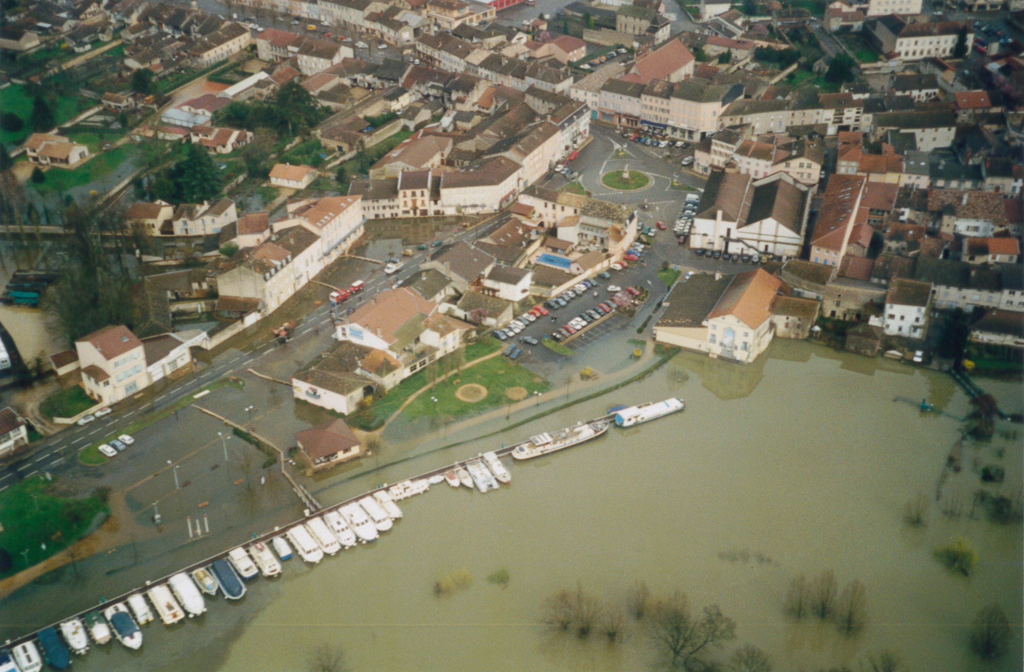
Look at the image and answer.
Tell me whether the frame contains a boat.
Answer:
Yes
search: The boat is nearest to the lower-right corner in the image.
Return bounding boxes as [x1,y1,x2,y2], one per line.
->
[921,392,936,412]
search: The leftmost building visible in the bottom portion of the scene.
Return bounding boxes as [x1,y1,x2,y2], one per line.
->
[0,404,30,457]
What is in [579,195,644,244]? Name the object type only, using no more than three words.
house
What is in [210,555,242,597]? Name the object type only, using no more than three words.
boat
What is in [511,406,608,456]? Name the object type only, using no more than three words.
vessel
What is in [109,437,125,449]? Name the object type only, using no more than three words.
vehicle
